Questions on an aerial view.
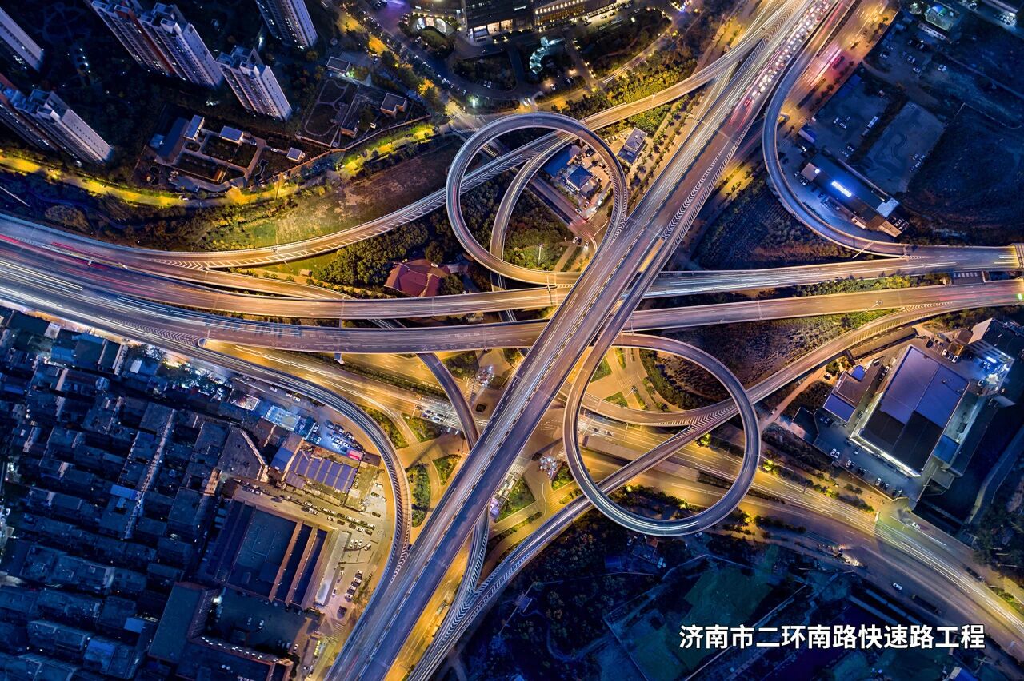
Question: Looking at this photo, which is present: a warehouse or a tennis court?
warehouse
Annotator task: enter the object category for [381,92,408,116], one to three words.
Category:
house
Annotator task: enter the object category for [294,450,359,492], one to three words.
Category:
building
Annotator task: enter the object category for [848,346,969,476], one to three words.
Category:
warehouse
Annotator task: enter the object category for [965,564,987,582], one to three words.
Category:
vehicle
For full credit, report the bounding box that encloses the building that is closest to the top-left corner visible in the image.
[0,3,49,72]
